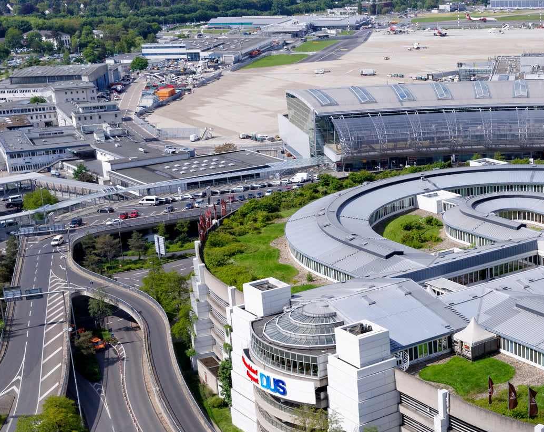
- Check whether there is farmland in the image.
No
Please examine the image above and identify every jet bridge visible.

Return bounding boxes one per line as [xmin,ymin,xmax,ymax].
[422,70,459,83]
[455,58,463,70]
